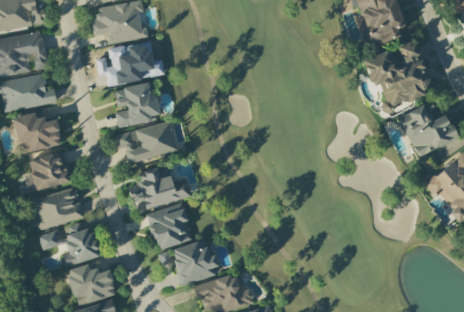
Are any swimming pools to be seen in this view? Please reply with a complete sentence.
Yes, a swimming pool can be made out from above.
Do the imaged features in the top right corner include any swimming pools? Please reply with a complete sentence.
Yes, a swimming pool can be seen in the top right corner.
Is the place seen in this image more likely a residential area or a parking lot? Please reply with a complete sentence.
The picture captures a residential area.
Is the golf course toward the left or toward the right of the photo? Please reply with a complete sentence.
The golf course appears in the right half of the scene.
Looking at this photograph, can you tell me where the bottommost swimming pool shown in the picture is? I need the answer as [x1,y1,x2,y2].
[244,276,266,301]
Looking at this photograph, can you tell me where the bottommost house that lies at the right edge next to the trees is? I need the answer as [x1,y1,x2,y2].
[424,151,464,222]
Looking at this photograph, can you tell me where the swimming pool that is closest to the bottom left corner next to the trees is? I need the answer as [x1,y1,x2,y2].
[42,244,68,271]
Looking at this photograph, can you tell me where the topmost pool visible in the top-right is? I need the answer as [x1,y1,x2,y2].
[340,11,364,43]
